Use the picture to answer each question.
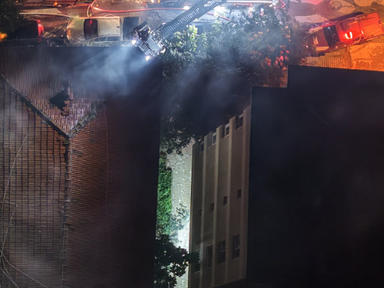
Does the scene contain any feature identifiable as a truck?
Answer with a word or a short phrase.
Yes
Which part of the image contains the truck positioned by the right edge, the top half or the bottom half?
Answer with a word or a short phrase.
top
